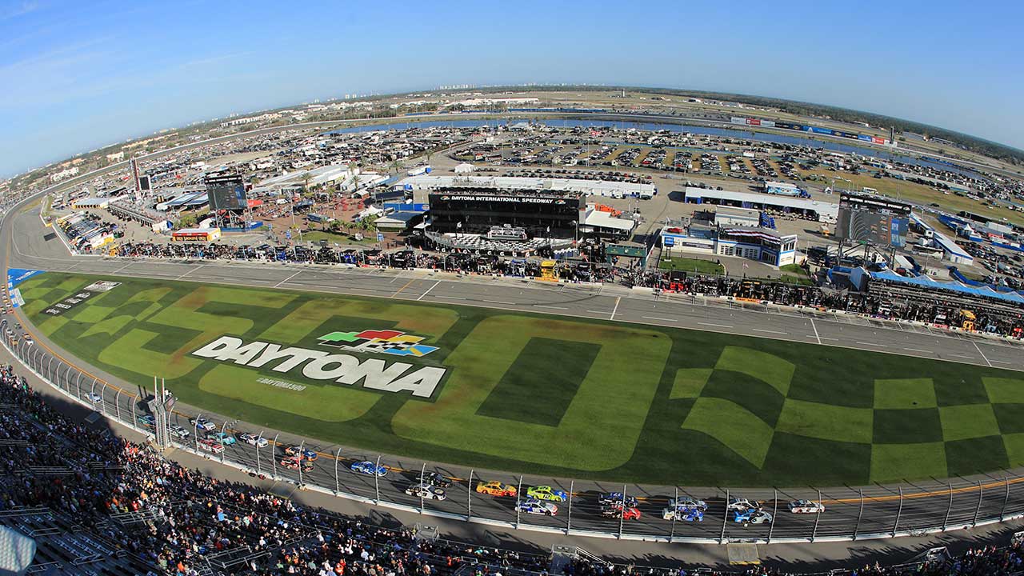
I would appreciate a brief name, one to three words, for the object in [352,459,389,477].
car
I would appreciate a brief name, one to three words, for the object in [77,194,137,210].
shed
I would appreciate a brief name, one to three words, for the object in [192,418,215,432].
car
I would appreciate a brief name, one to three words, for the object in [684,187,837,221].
building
